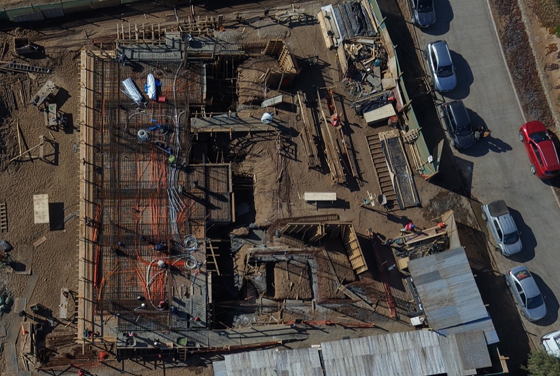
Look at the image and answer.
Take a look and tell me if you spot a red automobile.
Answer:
Yes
